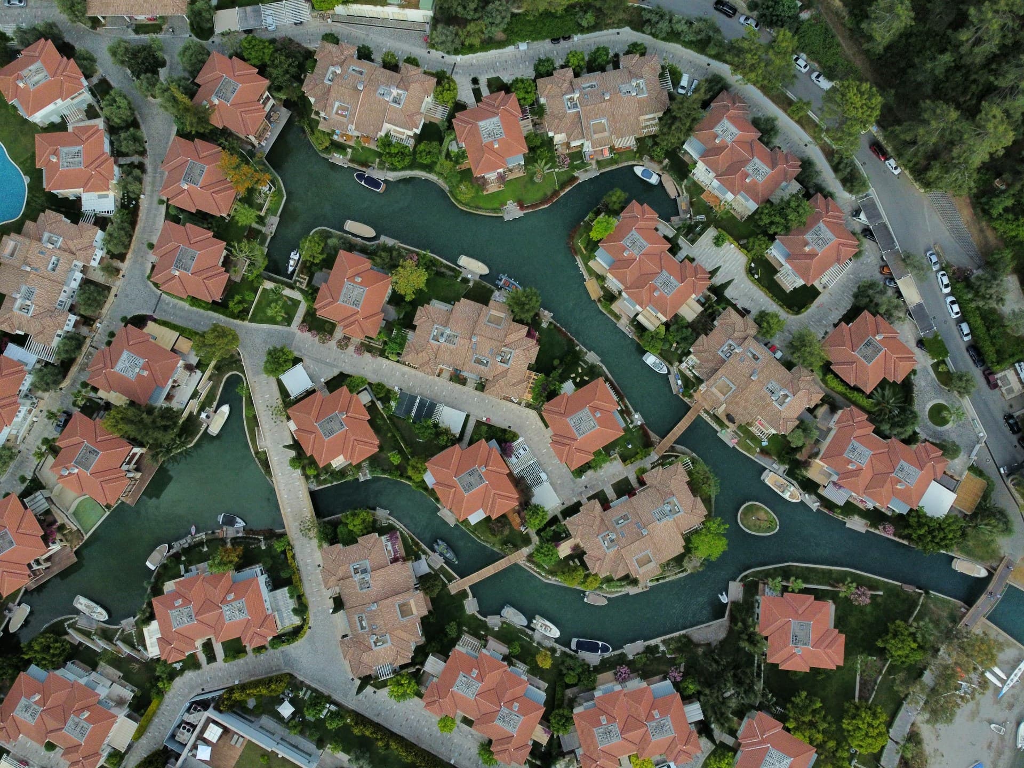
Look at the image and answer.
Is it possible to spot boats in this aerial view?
Yes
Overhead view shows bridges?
Yes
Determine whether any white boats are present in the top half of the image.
Yes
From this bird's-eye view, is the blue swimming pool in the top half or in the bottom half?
top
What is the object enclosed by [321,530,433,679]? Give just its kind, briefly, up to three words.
building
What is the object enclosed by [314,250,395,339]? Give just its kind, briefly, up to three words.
house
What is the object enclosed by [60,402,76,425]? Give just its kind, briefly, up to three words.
car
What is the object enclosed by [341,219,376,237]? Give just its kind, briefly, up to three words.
boat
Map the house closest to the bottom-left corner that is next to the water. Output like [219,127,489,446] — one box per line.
[0,657,135,768]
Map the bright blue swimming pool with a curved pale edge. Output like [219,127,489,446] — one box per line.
[0,143,27,223]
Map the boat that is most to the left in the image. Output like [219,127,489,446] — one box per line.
[10,600,32,632]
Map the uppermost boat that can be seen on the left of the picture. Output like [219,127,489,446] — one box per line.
[355,175,389,192]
